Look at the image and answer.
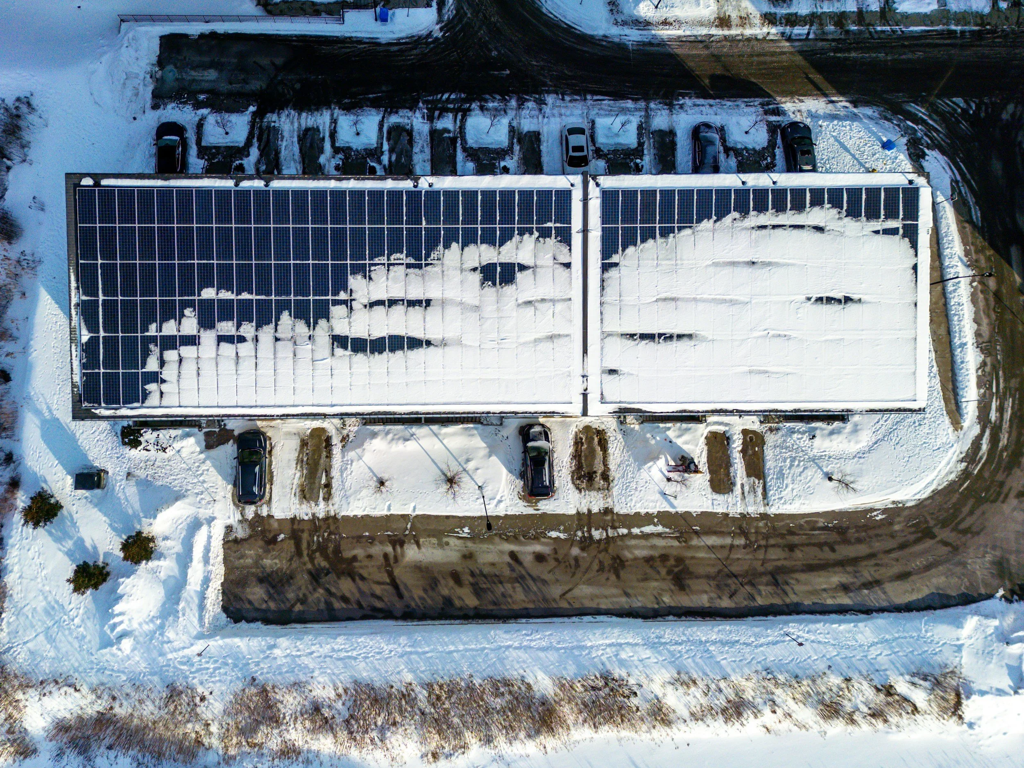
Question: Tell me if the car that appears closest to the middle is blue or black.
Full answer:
The car that appears closest to the middle is black.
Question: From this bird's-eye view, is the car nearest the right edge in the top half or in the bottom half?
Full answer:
The car nearest the right edge sits in the top half of the picture.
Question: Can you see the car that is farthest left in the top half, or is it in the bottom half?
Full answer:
It is in the top half that the car that is farthest left appears.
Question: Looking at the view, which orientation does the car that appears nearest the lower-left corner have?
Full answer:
What the image shows is the car that appears nearest the lower-left corner lying up and down.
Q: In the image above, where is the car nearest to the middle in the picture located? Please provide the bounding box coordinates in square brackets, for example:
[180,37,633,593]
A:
[521,424,557,499]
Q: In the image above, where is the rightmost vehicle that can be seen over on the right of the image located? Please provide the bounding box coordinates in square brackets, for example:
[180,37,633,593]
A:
[778,122,818,172]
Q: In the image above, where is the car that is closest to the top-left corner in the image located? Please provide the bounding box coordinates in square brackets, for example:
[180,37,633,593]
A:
[151,125,187,172]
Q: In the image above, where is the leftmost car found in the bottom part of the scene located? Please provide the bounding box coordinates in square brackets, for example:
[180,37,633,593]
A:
[234,430,270,504]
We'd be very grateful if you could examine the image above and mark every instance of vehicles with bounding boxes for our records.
[151,125,187,172]
[560,121,594,172]
[689,123,725,172]
[521,424,557,499]
[778,122,818,172]
[234,430,270,504]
